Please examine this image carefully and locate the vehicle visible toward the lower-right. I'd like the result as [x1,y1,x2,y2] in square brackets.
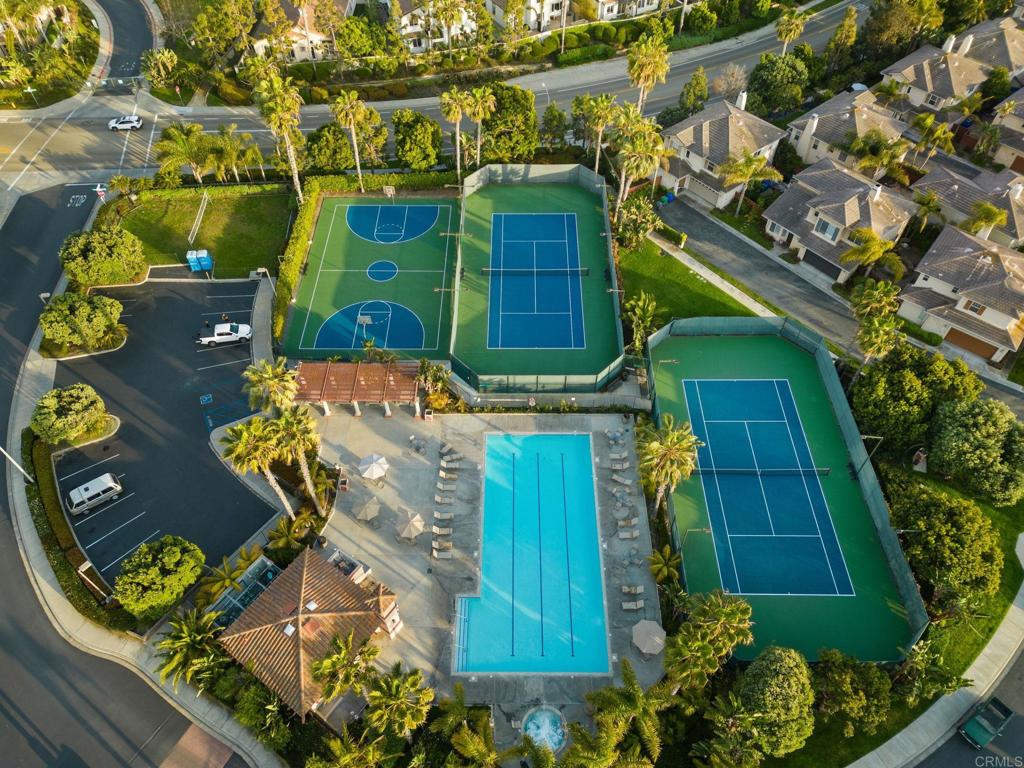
[957,693,1018,752]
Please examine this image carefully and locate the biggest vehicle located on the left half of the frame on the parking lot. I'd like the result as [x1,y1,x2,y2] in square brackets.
[64,467,121,510]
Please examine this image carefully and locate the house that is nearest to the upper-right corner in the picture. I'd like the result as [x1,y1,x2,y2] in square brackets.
[960,26,1024,117]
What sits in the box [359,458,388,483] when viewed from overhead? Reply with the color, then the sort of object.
white umbrella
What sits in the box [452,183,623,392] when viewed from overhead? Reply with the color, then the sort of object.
green tennis court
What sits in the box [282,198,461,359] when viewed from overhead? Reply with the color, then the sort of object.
green basketball court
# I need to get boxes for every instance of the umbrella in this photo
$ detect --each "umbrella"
[352,498,382,524]
[359,458,388,483]
[629,620,667,658]
[395,512,425,539]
